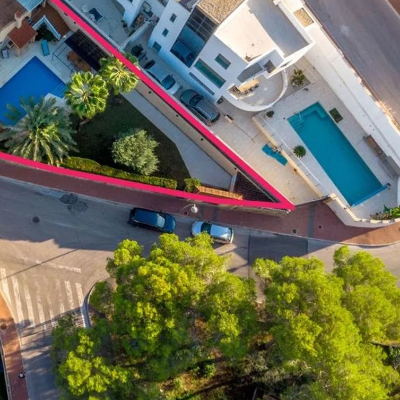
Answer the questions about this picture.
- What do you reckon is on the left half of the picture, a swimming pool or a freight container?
swimming pool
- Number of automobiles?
4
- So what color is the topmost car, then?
blue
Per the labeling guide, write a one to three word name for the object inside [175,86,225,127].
car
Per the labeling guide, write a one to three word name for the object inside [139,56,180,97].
car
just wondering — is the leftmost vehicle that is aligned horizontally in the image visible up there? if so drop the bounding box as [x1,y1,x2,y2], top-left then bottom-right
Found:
[125,205,178,234]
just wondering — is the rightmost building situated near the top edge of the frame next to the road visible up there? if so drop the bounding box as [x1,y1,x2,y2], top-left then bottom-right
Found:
[150,0,315,124]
